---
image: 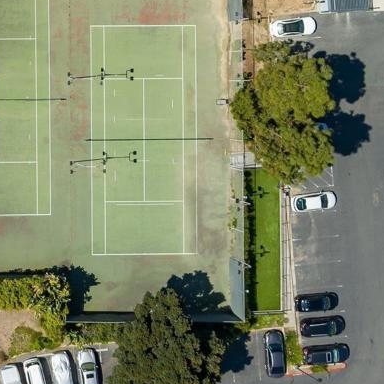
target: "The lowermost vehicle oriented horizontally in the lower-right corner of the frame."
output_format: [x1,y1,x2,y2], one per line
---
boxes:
[299,341,349,365]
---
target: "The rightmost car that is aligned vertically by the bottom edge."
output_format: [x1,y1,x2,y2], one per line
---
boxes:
[261,327,286,377]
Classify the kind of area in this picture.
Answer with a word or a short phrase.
sports ground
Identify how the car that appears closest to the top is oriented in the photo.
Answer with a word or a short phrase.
from side to side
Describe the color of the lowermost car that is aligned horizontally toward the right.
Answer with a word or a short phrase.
black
